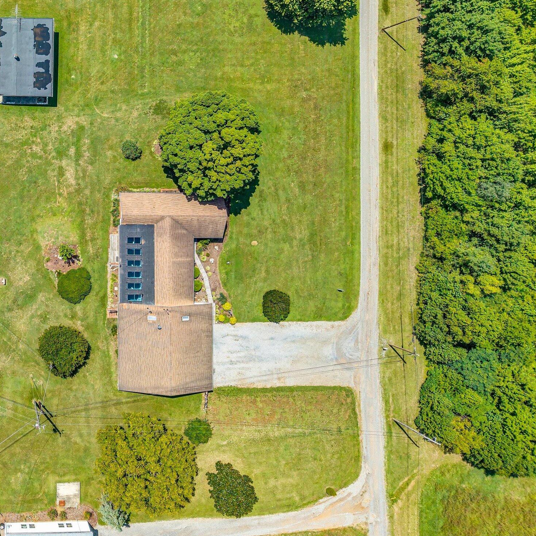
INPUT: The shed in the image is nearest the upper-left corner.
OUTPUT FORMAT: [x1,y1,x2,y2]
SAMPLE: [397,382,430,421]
[0,17,54,104]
